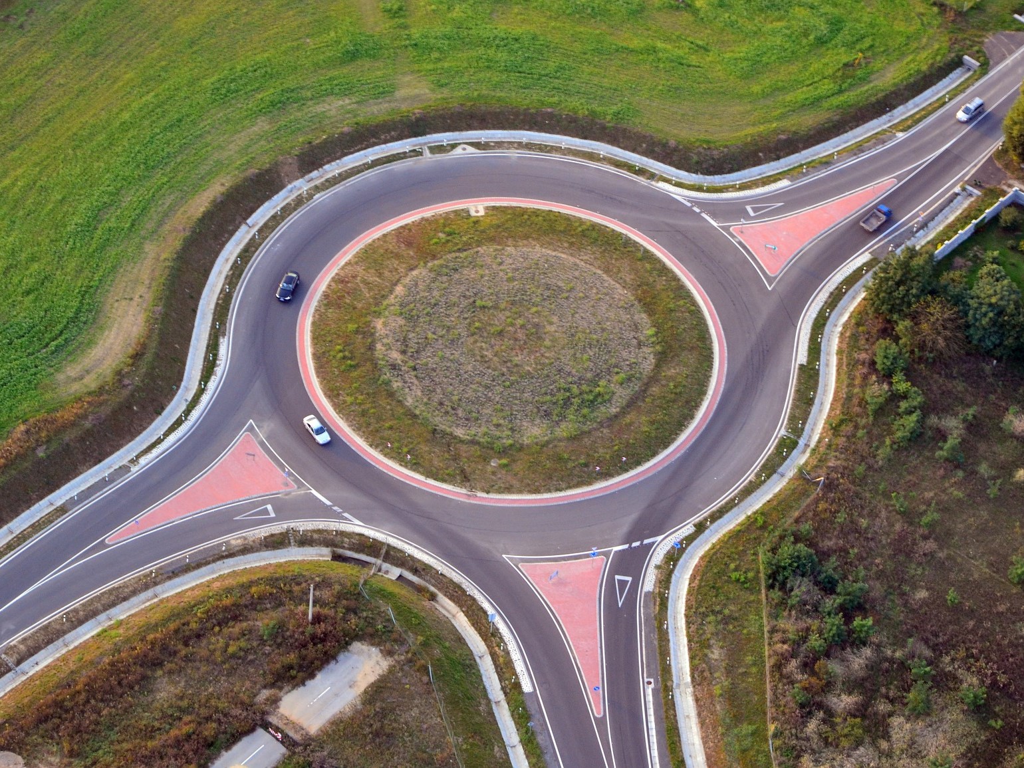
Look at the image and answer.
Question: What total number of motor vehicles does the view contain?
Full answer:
I count 4 motor vehicles.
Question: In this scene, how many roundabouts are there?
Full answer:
In total, there is 1 roundabout in the scene.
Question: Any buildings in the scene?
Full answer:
No, no building is visible in the view.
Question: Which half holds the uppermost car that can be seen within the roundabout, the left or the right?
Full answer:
It is on the left.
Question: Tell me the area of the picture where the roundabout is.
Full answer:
Look in the center portion of the view to spot the roundabout.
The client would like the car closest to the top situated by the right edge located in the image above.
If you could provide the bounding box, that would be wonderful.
[956,97,984,122]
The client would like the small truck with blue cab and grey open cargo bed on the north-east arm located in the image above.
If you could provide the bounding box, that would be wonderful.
[859,205,893,232]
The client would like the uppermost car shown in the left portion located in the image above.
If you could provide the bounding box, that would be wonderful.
[276,271,299,298]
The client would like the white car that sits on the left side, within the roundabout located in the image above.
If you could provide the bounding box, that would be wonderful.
[302,414,331,444]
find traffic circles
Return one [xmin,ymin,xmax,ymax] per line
[244,165,778,548]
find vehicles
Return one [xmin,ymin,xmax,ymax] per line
[276,271,299,298]
[302,414,331,444]
[859,205,893,232]
[956,97,984,122]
